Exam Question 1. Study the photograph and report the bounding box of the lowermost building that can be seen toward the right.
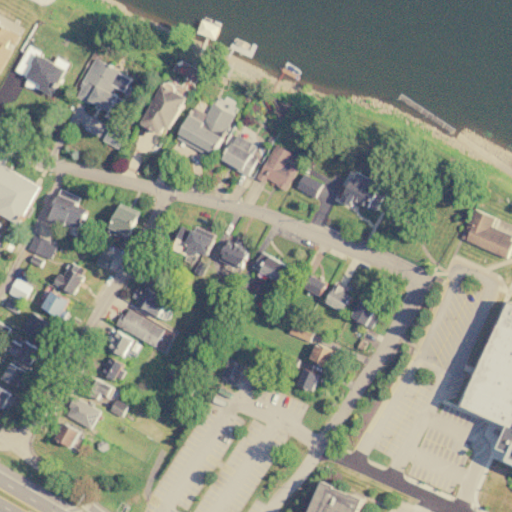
[310,482,370,512]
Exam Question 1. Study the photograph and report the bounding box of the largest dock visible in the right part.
[398,94,454,133]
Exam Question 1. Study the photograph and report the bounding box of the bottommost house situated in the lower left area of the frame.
[56,424,87,450]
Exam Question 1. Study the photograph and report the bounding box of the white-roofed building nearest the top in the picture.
[198,18,222,42]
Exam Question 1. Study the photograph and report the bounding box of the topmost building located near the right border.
[466,208,512,259]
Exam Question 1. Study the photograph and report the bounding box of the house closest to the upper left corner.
[16,45,70,94]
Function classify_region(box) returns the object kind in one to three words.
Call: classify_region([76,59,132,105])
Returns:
house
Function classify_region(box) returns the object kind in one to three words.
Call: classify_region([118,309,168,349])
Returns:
building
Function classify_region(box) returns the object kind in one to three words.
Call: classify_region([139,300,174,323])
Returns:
house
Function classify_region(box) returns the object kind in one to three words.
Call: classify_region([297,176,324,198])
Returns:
building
